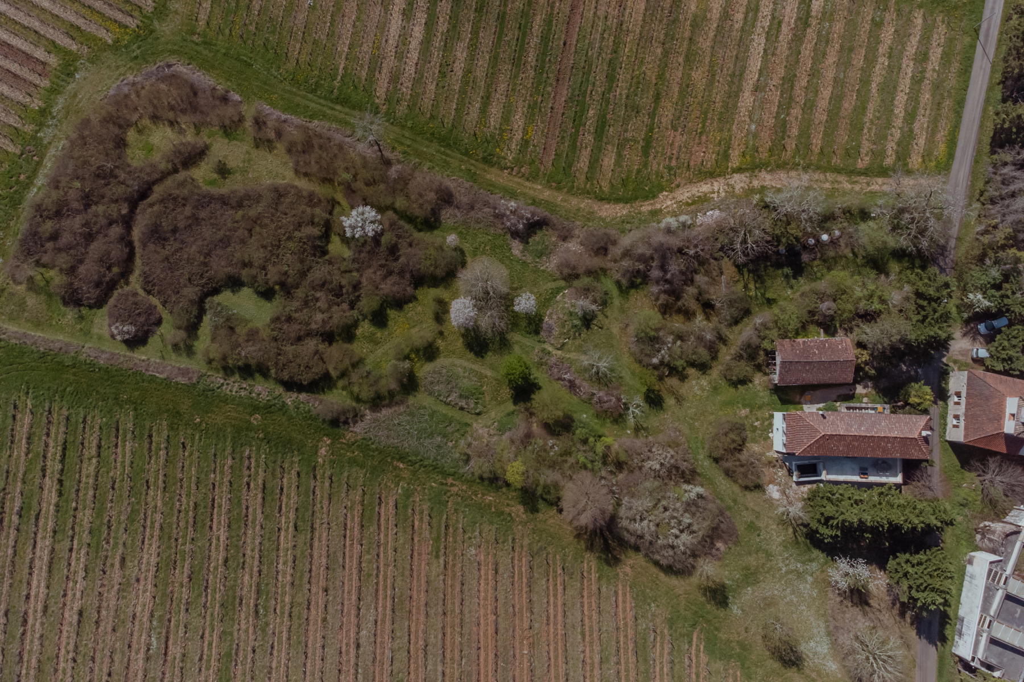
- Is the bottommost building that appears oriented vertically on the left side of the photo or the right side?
right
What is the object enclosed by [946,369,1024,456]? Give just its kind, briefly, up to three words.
house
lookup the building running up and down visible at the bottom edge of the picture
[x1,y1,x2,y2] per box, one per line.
[951,524,1024,682]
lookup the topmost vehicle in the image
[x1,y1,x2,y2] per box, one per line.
[979,316,1014,335]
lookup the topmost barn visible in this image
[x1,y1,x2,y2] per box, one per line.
[769,338,857,385]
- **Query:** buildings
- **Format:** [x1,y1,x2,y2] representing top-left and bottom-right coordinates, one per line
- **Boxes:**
[946,369,1024,456]
[951,524,1024,682]
[774,410,932,459]
[769,338,857,385]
